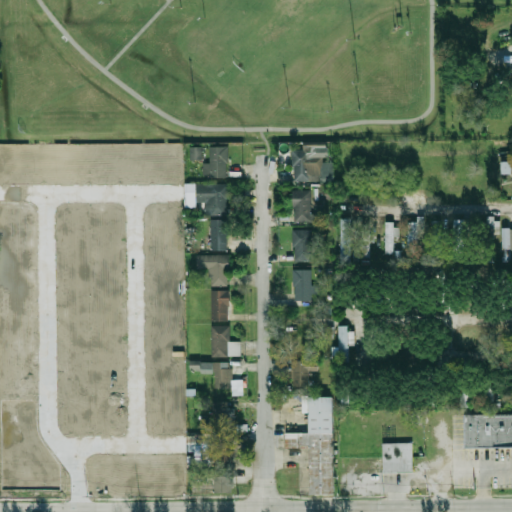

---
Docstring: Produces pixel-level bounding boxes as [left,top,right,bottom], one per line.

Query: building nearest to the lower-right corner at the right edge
[464,415,512,449]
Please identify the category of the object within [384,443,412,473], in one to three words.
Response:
building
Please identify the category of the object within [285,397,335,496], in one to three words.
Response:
building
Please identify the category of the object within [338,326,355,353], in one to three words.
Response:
house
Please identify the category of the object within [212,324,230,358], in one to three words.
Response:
house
